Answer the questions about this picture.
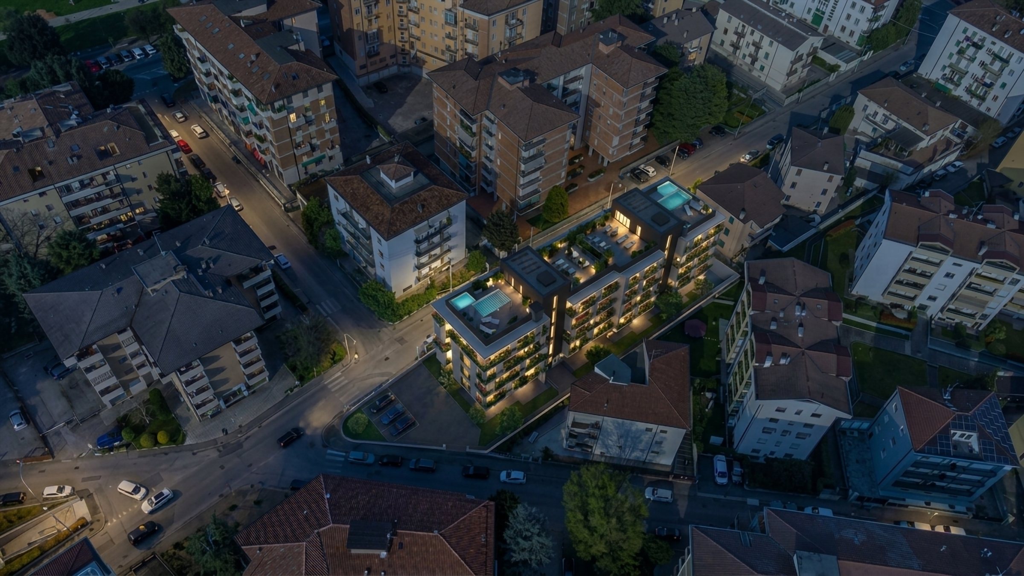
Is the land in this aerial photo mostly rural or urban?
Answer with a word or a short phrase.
urban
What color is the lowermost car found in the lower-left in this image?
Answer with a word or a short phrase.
black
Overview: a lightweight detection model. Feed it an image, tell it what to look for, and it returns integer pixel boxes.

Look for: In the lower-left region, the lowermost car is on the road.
[126,519,160,545]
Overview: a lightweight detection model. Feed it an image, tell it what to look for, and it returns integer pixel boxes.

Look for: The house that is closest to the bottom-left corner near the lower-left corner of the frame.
[30,536,115,576]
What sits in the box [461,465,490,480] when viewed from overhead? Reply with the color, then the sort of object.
black car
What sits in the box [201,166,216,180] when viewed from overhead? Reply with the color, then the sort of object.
black car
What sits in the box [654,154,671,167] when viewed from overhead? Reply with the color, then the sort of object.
black vehicle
